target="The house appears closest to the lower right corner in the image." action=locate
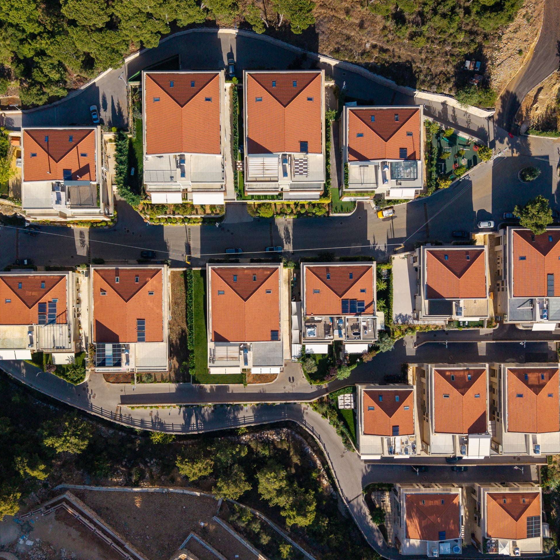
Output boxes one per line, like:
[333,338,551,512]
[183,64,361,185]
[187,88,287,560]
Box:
[465,478,543,557]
